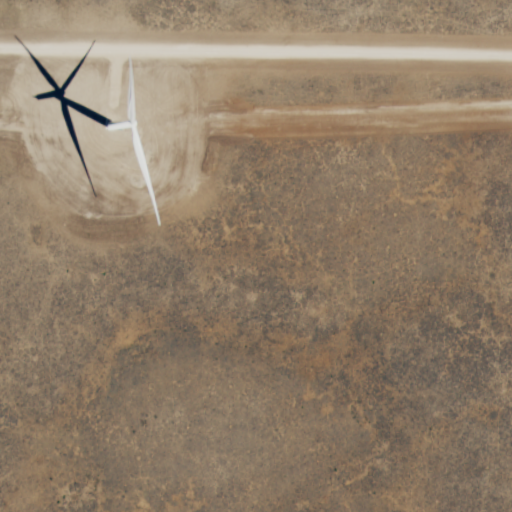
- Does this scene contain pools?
No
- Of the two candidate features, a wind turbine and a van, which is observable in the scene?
wind turbine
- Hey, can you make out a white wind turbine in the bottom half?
No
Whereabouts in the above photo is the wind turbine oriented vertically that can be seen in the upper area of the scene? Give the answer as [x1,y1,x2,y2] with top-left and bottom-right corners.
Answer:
[106,58,160,226]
